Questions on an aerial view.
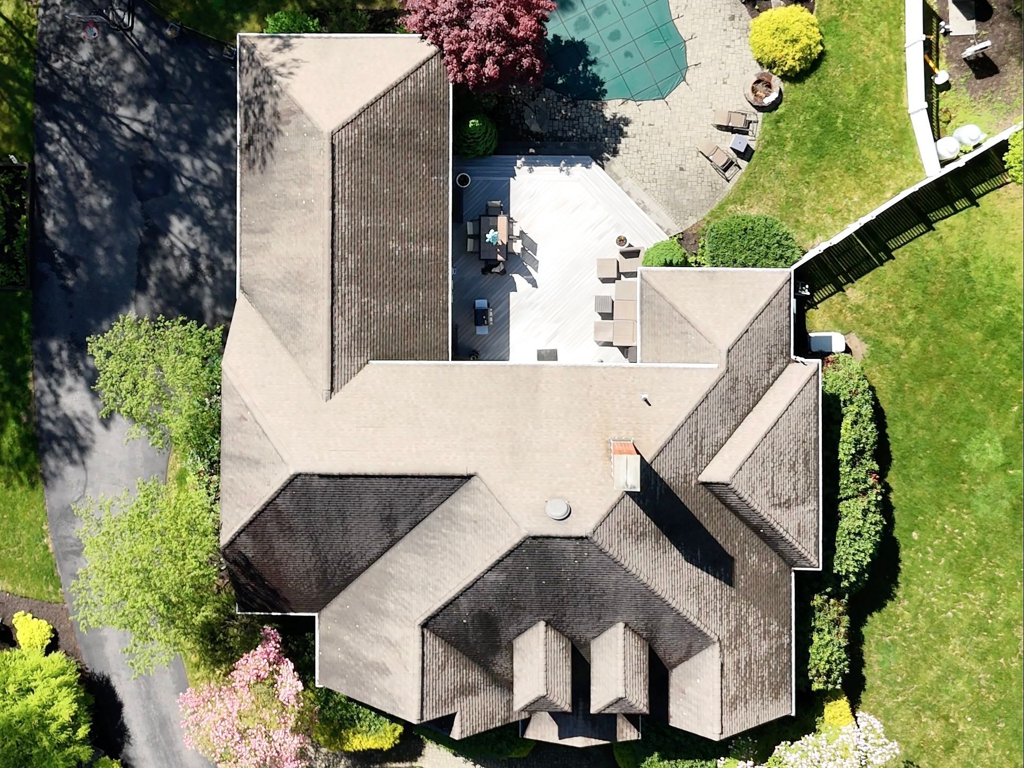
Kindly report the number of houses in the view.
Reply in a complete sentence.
I count just 1 house.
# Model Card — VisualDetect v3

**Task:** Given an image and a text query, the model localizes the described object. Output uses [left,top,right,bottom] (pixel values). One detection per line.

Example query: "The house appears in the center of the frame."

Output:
[219,30,824,747]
